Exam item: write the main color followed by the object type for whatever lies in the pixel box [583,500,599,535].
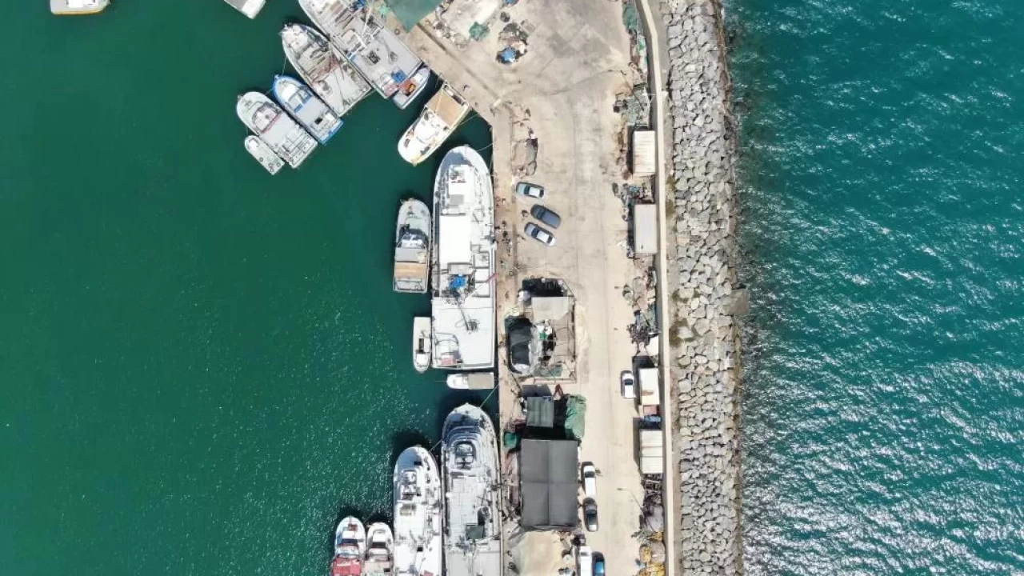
gray car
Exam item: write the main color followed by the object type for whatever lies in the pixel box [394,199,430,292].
white boat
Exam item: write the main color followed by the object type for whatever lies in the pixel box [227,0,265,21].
white boat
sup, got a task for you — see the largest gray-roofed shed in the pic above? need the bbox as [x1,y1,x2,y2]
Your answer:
[519,433,578,530]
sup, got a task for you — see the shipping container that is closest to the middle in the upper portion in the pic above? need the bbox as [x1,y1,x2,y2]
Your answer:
[631,204,657,255]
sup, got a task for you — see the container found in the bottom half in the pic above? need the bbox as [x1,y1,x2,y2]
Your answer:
[637,426,663,474]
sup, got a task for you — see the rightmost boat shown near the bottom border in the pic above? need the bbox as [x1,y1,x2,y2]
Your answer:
[440,402,504,576]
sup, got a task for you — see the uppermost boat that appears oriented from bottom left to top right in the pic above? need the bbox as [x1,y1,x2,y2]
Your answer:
[396,66,431,109]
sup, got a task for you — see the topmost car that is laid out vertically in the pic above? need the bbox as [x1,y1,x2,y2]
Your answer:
[622,371,636,401]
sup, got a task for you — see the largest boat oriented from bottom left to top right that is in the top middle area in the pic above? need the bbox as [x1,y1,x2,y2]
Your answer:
[404,79,470,166]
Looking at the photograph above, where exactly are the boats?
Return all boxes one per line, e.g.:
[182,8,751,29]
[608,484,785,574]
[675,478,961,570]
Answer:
[394,199,430,292]
[447,372,494,389]
[364,522,393,576]
[404,79,470,166]
[433,144,498,370]
[396,66,431,109]
[333,514,365,576]
[413,314,430,373]
[227,0,265,21]
[273,74,346,146]
[440,402,504,576]
[245,136,285,176]
[238,92,318,168]
[50,0,114,17]
[303,0,422,97]
[281,20,373,118]
[385,445,441,576]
